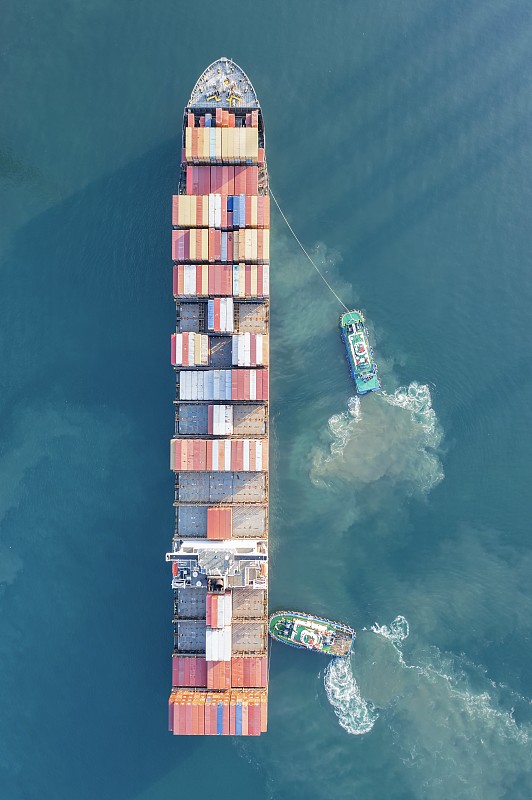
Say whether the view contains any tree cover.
No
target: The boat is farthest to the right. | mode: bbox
[341,310,380,394]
